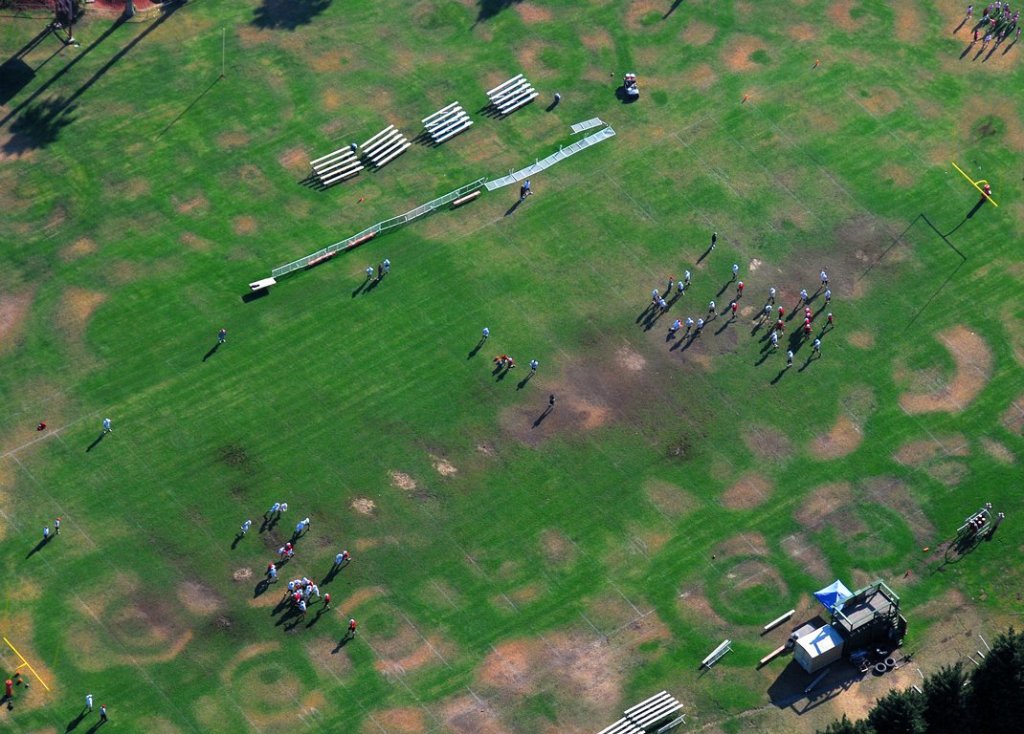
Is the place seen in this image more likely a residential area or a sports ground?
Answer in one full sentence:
This image shows a sports ground.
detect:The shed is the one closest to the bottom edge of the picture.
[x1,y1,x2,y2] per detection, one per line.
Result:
[794,624,844,674]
